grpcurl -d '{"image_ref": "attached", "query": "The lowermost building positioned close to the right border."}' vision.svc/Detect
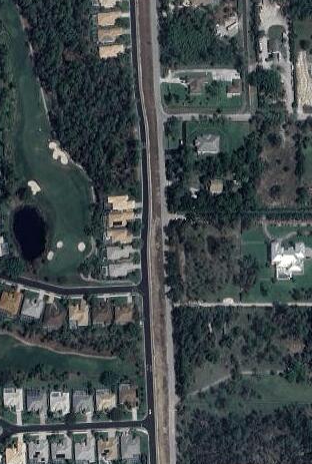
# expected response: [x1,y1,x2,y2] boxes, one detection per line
[272,239,305,277]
